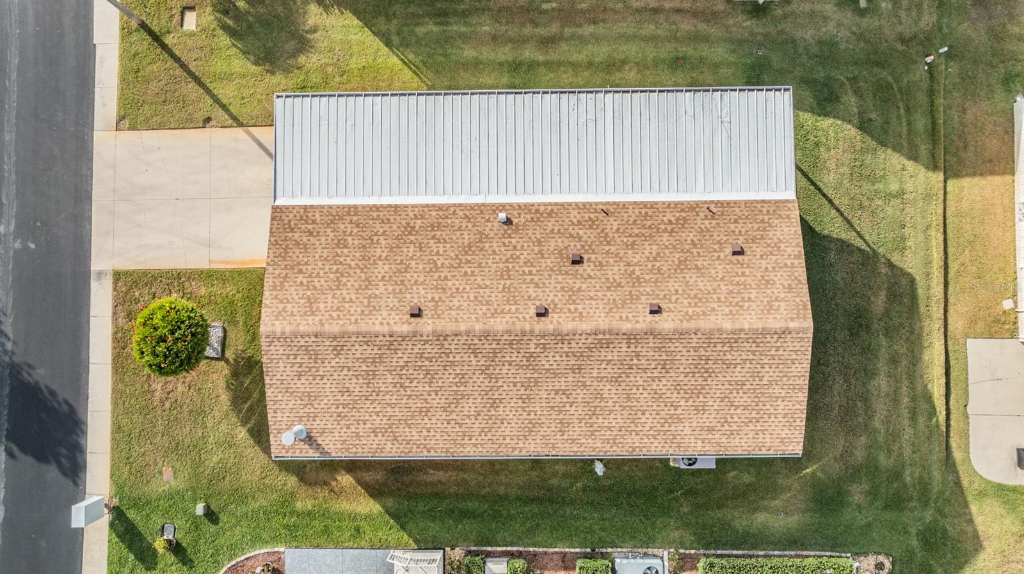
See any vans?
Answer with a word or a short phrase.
No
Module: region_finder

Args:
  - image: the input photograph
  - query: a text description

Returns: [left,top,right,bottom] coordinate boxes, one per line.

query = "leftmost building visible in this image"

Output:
[261,87,813,461]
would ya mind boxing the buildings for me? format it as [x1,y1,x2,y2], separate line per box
[261,87,813,461]
[1007,100,1024,345]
